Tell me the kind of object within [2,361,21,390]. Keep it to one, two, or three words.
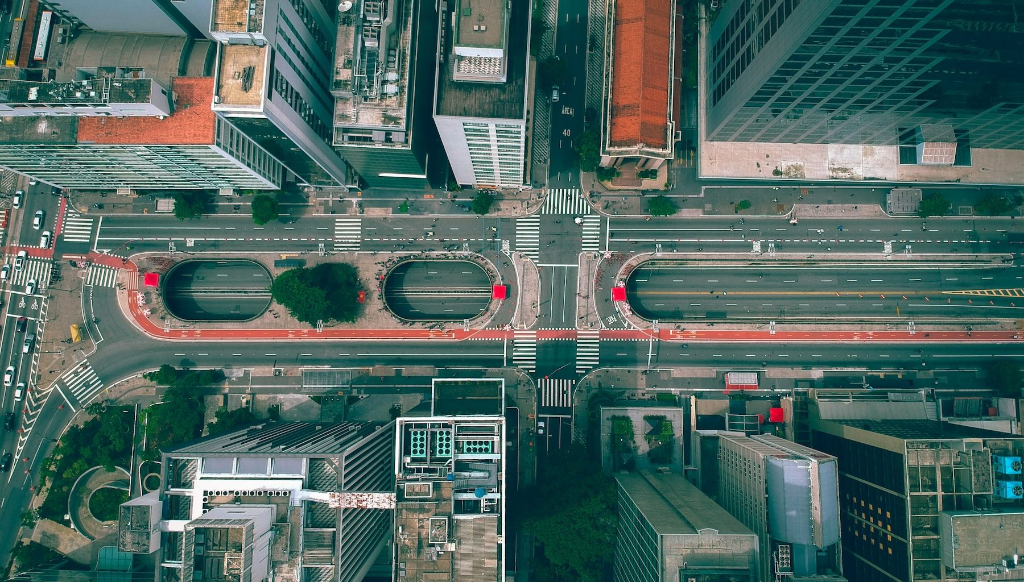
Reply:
car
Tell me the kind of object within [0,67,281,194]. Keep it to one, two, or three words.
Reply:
building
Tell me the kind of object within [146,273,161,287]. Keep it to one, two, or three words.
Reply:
gazebo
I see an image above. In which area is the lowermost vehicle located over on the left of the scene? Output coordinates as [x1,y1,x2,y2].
[1,448,18,477]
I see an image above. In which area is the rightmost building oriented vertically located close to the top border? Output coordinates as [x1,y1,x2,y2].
[596,0,677,189]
